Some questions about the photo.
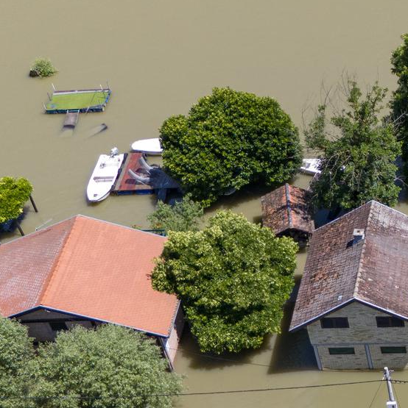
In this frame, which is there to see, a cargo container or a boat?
boat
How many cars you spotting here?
0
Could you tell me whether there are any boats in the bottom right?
No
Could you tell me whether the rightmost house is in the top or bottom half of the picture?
bottom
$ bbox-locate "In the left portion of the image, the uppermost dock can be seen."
[114,152,188,196]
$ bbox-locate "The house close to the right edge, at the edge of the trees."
[291,198,408,372]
